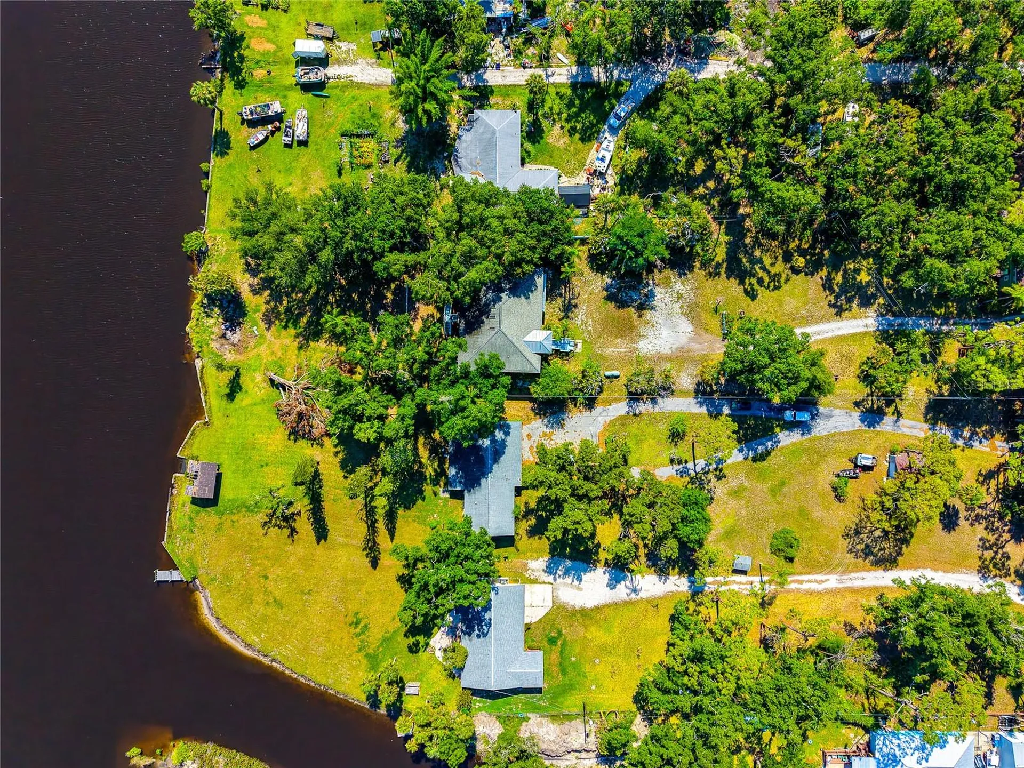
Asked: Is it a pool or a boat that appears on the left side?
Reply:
boat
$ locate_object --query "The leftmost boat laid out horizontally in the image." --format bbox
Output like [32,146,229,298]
[237,100,281,119]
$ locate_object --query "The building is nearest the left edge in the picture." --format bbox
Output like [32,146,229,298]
[185,460,223,498]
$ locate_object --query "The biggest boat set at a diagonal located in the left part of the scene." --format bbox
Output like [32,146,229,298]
[247,130,267,147]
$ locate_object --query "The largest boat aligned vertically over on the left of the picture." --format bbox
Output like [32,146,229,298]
[294,108,306,143]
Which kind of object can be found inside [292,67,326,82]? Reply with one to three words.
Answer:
boat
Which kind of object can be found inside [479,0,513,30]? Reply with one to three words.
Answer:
house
